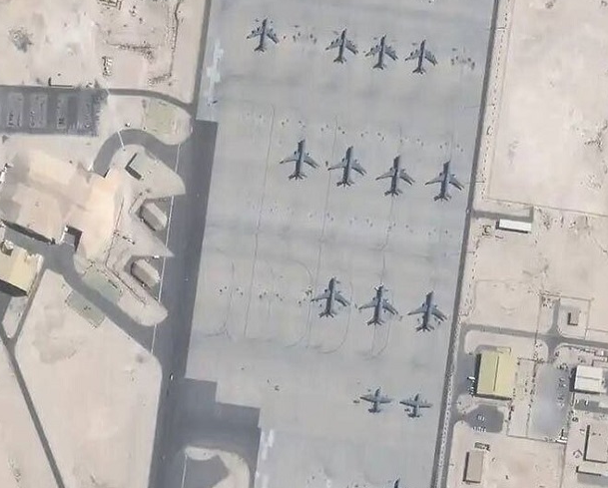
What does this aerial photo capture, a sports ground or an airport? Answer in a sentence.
The area seen from above is an airport.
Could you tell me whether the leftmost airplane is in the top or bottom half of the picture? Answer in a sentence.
Seen from above, the leftmost airplane lies in the top half of the view.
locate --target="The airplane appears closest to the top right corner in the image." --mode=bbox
[408,38,439,71]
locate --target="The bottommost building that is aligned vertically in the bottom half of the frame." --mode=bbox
[466,450,483,483]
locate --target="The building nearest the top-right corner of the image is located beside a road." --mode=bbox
[499,219,532,232]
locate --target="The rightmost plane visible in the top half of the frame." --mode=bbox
[429,158,466,198]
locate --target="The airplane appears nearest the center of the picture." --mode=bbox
[313,275,351,315]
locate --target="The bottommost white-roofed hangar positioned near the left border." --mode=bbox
[0,241,44,295]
